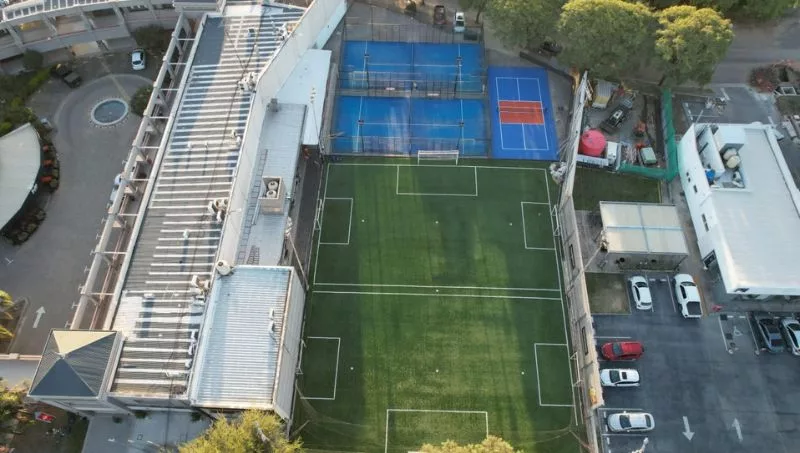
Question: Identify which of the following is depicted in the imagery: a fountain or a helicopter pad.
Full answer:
Of the two, only a fountain appears.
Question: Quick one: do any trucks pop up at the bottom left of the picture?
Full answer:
No, I see no truck at the bottom left of the picture.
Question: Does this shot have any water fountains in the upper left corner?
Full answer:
Yes, you'll find a water fountain in the upper left corner.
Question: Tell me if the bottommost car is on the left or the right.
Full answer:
The bottommost car is on the right side of the image.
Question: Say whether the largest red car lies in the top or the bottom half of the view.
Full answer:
The largest red car is in the bottom half of the image.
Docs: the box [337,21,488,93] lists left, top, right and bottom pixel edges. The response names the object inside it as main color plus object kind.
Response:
blue sports court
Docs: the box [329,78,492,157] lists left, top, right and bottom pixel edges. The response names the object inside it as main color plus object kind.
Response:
blue sports court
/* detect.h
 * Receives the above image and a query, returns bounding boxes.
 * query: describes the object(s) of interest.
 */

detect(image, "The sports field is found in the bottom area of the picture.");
[290,155,588,453]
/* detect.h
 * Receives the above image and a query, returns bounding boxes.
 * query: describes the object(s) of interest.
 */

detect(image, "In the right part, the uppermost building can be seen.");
[588,82,611,119]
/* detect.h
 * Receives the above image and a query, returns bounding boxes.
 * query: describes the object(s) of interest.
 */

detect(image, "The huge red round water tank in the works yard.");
[578,134,609,160]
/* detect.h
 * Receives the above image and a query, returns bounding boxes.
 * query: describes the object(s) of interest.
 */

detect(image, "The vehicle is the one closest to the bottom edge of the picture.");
[605,409,656,434]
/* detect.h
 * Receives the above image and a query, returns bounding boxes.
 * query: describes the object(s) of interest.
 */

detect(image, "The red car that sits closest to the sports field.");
[601,338,646,362]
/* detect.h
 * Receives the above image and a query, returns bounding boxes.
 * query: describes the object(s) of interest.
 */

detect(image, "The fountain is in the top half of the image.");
[85,95,134,130]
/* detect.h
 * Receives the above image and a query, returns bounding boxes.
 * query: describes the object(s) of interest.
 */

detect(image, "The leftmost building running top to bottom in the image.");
[0,126,52,252]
